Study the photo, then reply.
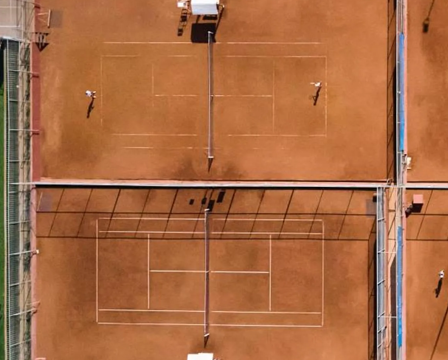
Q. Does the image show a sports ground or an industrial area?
sports ground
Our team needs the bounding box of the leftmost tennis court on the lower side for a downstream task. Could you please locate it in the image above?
[36,185,385,360]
